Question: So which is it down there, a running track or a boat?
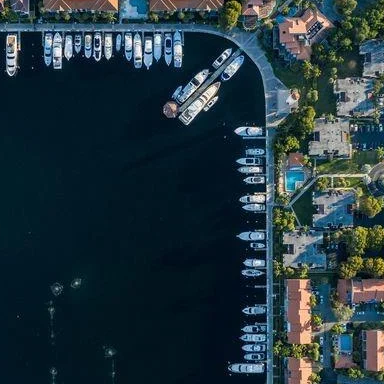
boat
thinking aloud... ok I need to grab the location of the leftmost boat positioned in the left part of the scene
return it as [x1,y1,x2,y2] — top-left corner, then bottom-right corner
[6,33,19,76]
